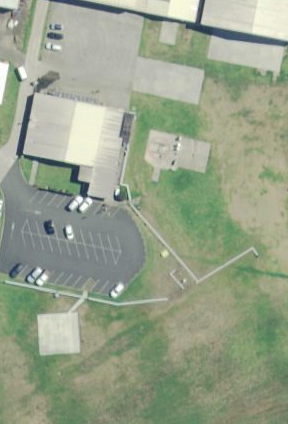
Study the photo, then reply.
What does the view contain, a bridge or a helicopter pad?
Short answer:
helicopter pad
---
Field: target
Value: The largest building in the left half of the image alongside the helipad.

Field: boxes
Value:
[22,92,124,200]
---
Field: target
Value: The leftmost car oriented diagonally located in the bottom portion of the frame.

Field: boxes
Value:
[10,264,24,278]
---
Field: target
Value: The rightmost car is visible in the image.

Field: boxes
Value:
[110,282,124,298]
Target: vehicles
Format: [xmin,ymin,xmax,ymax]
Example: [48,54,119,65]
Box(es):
[46,220,54,234]
[78,198,92,212]
[49,24,63,30]
[66,226,73,240]
[110,282,124,298]
[27,268,42,282]
[16,64,28,83]
[45,43,61,50]
[36,270,51,286]
[68,196,83,210]
[46,32,62,40]
[10,264,24,278]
